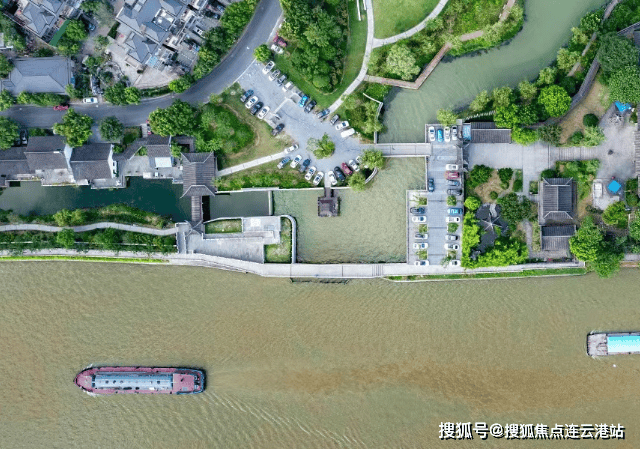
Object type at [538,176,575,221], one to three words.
building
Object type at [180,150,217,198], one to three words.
building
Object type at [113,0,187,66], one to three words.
house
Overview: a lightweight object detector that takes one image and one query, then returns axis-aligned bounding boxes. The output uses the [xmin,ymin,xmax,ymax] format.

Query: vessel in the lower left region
[73,364,207,395]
